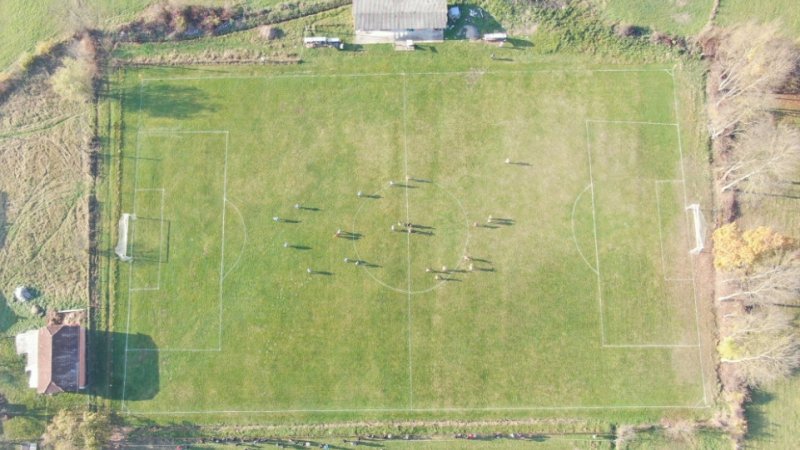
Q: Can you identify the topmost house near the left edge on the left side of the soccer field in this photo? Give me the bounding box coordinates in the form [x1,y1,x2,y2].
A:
[16,325,90,395]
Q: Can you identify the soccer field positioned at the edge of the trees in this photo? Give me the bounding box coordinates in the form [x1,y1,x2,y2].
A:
[113,62,714,423]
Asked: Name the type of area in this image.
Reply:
sports ground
